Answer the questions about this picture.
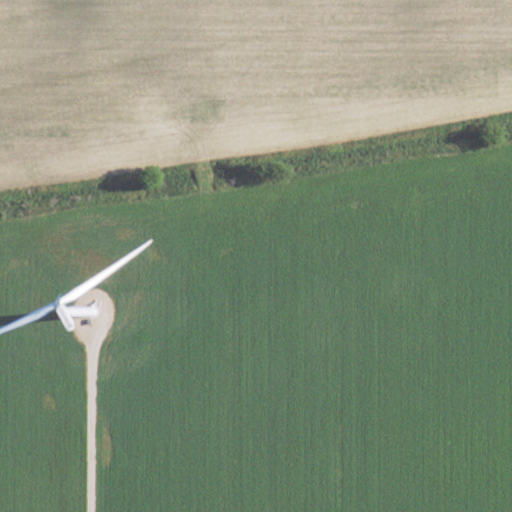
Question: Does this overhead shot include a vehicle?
No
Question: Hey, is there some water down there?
No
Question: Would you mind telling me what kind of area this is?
farmland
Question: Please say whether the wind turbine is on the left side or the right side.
left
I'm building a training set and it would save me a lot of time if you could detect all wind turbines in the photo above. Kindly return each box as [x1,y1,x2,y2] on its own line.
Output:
[0,240,153,334]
